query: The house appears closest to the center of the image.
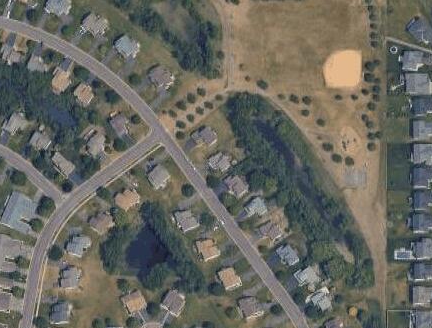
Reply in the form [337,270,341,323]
[211,150,232,174]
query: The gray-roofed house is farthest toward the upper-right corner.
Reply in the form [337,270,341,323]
[407,17,432,46]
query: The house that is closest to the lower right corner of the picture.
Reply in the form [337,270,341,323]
[409,311,432,328]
